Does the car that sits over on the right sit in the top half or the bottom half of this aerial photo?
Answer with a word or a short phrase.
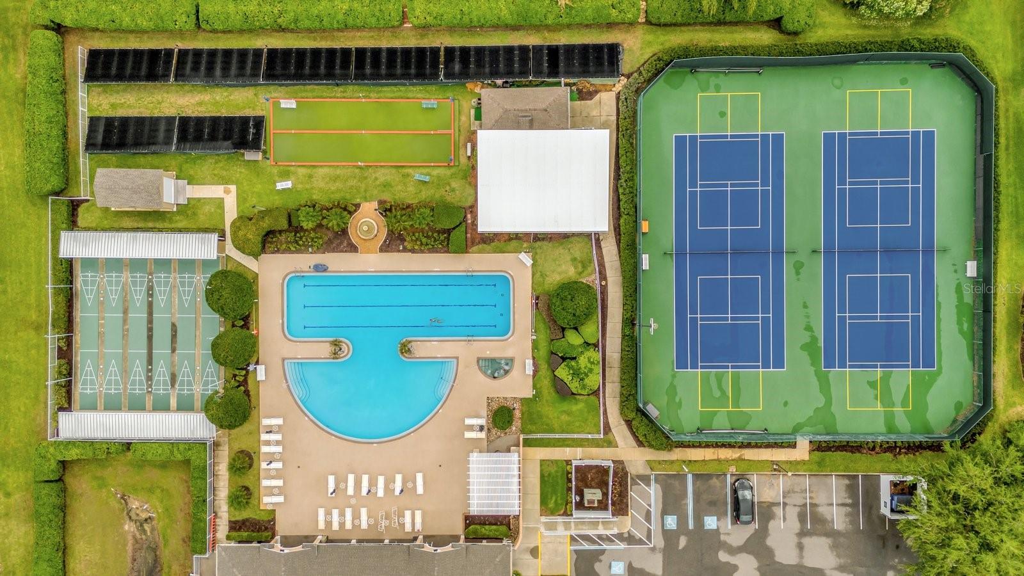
bottom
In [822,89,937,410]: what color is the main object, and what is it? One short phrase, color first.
blue tennis court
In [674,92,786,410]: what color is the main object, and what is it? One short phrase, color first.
blue tennis court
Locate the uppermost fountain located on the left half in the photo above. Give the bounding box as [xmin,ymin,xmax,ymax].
[356,218,378,239]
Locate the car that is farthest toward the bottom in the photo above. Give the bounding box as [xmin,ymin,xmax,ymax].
[734,480,757,527]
